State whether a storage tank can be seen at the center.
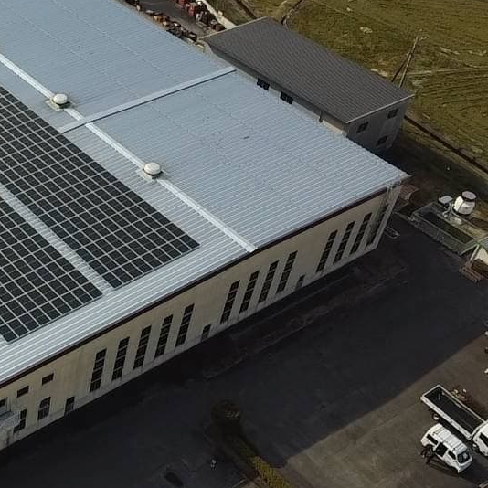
No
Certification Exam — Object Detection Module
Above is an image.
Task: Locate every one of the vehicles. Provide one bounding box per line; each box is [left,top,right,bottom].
[417,384,488,461]
[417,421,475,474]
